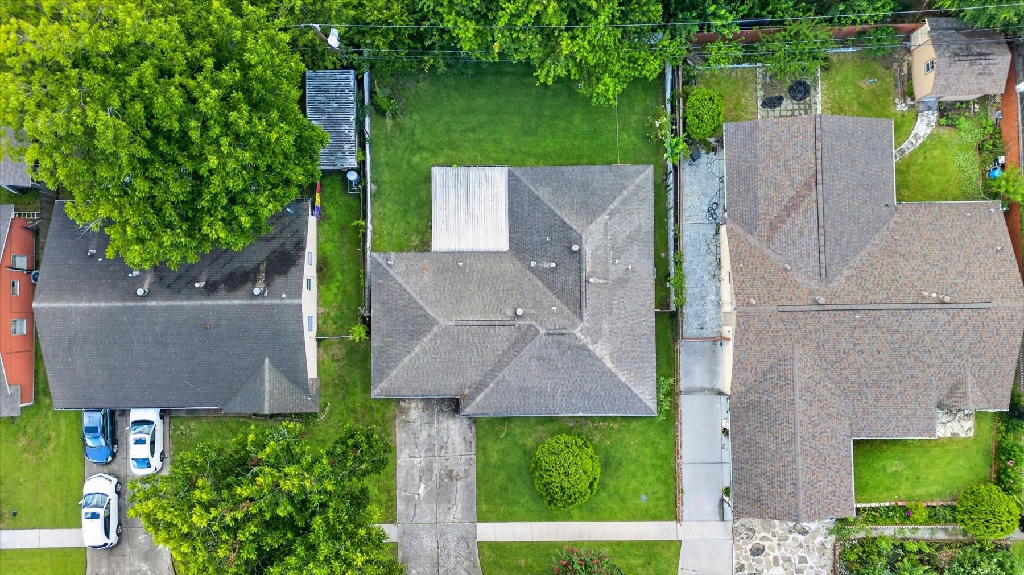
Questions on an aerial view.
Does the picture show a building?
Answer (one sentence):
Yes, a building can be made out from above.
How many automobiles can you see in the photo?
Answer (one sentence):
The number of automobiles here is 3.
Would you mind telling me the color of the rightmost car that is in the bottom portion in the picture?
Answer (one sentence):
The color of the rightmost car that is in the bottom portion is white.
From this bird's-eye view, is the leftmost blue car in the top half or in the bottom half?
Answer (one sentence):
Seen from above, the leftmost blue car lies in the bottom half of the view.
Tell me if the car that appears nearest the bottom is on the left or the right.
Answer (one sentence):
It is on the left.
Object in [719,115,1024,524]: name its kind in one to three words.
house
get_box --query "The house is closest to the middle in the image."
[370,164,656,418]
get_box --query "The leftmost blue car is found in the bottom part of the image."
[78,411,121,465]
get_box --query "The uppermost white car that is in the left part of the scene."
[123,411,165,476]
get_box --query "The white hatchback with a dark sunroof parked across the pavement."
[77,473,120,551]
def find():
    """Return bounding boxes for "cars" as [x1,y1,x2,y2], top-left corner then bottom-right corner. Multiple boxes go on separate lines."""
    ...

[78,411,121,465]
[123,411,165,476]
[77,473,120,551]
